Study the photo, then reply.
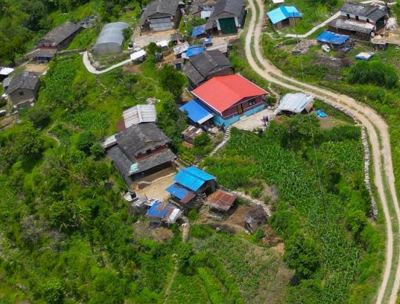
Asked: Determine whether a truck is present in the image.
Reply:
No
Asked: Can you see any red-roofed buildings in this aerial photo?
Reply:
Yes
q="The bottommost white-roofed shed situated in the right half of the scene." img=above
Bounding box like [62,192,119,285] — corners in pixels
[277,89,314,125]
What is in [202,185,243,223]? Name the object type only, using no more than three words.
shed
